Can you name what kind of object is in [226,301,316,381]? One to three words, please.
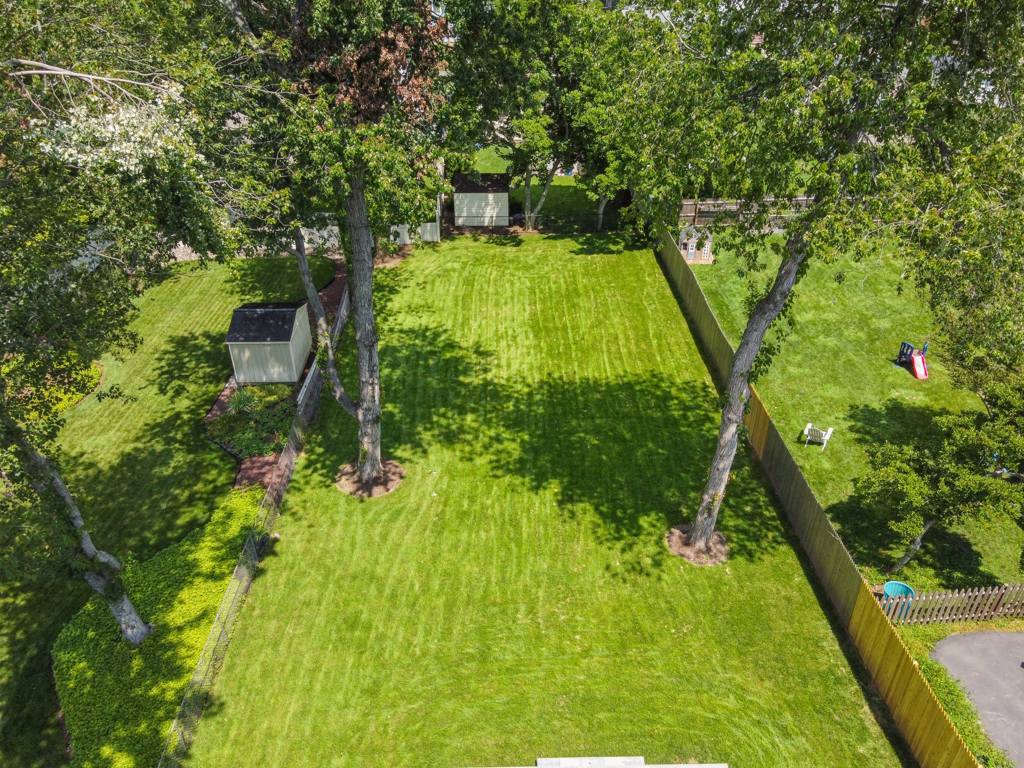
shed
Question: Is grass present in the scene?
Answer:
Yes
